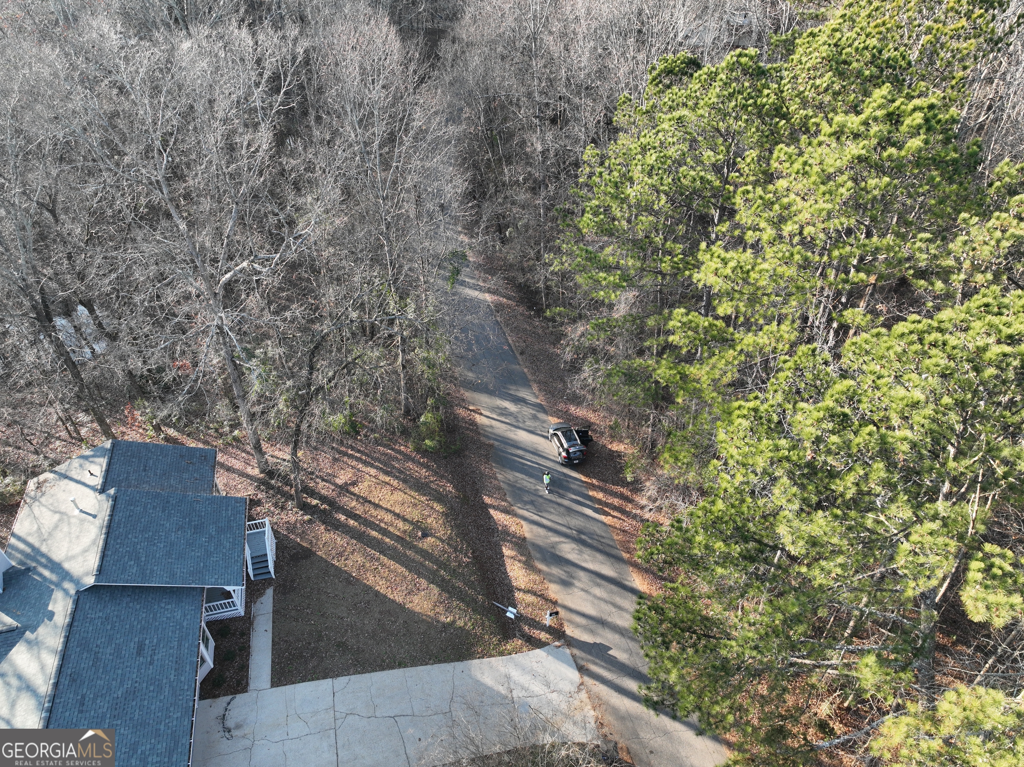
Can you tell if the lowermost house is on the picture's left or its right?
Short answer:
left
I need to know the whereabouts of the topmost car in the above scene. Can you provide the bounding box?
[547,419,598,470]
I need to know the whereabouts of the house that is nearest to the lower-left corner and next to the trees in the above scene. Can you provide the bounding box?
[0,436,275,767]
